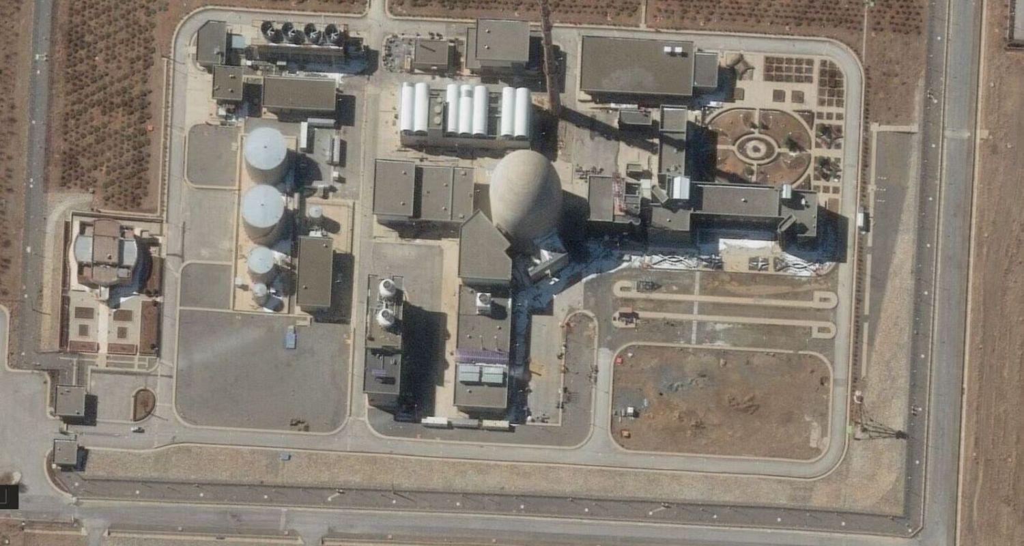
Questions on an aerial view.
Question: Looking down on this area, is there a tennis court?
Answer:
No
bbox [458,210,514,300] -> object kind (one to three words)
building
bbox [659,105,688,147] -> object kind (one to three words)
building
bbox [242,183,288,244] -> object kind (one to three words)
storage tank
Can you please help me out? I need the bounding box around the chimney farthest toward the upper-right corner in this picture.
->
[541,0,563,121]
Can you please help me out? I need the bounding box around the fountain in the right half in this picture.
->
[747,138,766,158]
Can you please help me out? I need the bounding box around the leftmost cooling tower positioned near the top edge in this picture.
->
[252,18,350,62]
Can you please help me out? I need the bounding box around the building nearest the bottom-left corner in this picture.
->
[54,439,79,470]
